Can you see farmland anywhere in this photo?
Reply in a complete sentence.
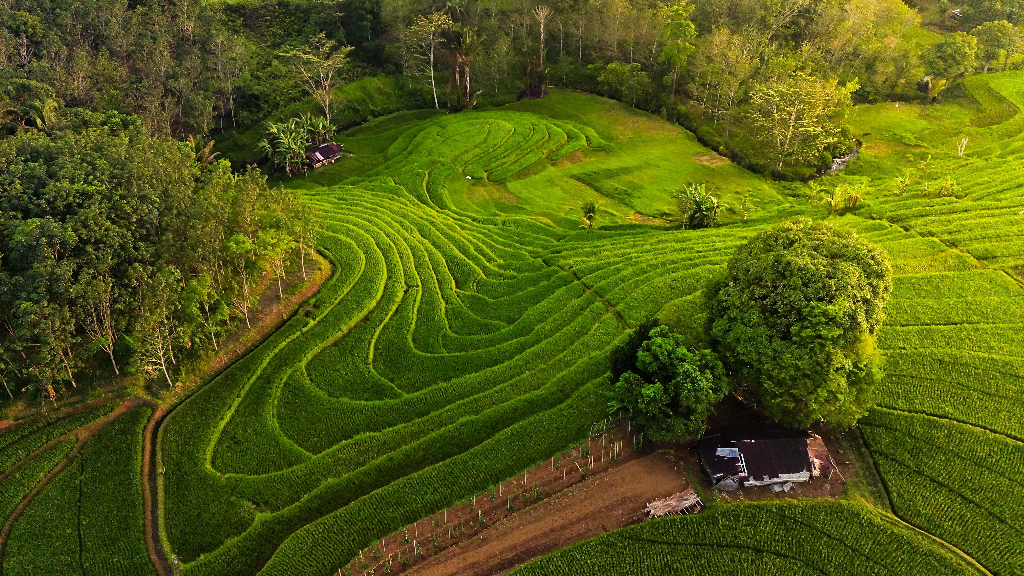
Yes, farmland can be seen from above here.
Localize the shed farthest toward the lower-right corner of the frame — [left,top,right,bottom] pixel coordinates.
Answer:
[692,427,835,495]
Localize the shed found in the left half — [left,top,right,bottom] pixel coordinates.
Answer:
[306,142,344,174]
